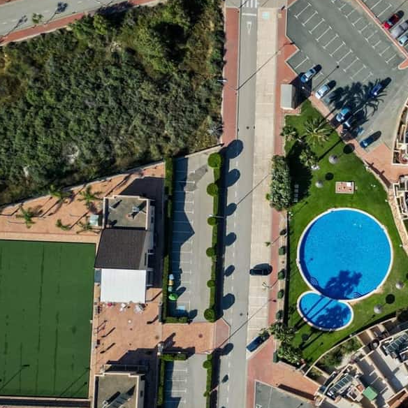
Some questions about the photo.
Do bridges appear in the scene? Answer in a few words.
No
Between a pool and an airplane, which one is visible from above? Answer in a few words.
pool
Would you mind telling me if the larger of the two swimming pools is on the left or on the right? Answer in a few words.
right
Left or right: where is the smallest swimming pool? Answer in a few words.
right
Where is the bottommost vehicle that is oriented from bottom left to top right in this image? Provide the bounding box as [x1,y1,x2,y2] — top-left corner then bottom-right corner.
[249,332,267,348]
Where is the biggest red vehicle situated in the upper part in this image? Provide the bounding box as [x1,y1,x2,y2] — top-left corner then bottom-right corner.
[382,13,398,29]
